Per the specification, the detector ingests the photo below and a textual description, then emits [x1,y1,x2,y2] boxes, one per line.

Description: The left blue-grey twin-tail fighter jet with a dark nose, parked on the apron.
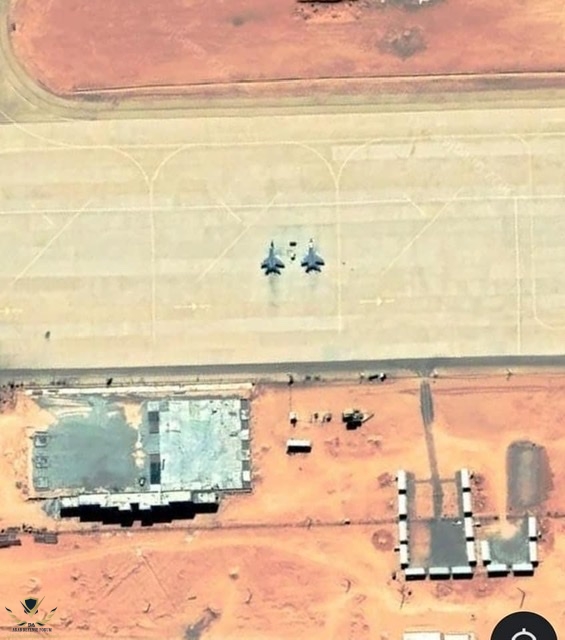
[260,241,284,275]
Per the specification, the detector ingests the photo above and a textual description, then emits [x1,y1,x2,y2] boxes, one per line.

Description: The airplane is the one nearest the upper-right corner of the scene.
[301,239,324,273]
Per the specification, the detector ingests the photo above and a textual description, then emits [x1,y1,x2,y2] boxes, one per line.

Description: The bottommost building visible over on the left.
[59,492,218,511]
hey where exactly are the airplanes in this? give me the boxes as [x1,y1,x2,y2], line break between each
[301,239,324,273]
[260,241,284,275]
